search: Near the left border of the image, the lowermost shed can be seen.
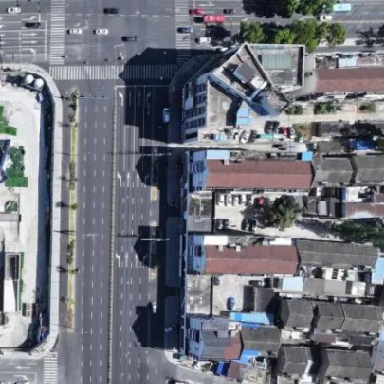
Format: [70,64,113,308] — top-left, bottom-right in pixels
[2,279,18,313]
